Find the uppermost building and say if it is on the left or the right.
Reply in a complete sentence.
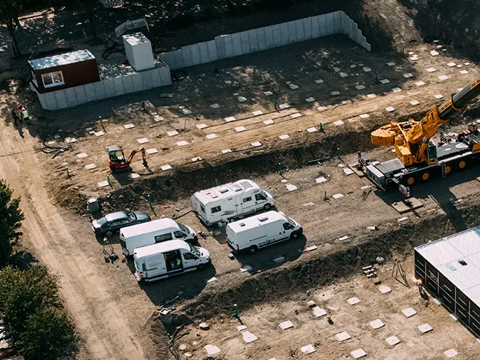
The uppermost building is on the left side of the image.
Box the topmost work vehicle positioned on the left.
[109,143,153,173]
